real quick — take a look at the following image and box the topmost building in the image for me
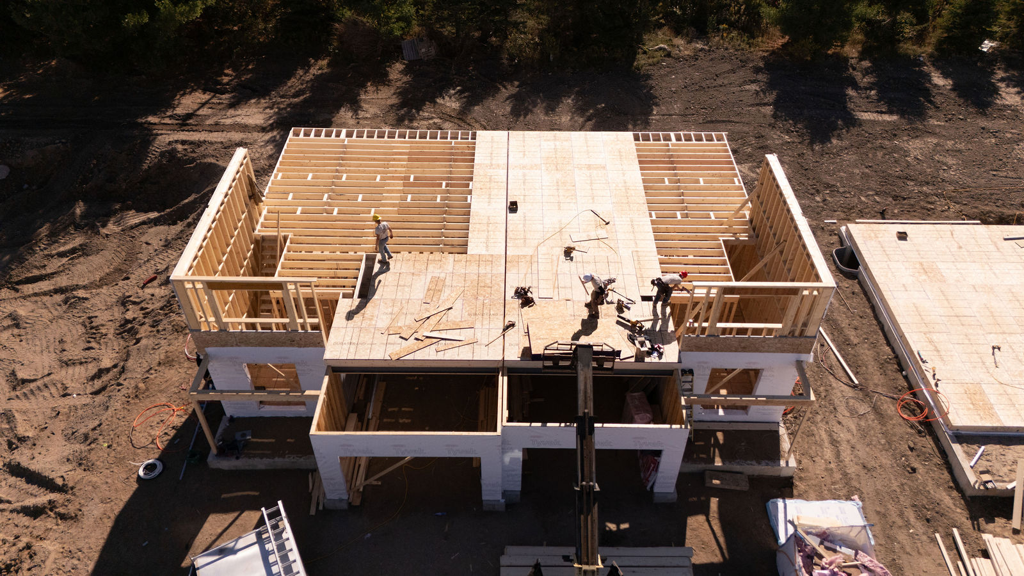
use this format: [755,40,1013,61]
[174,128,834,501]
